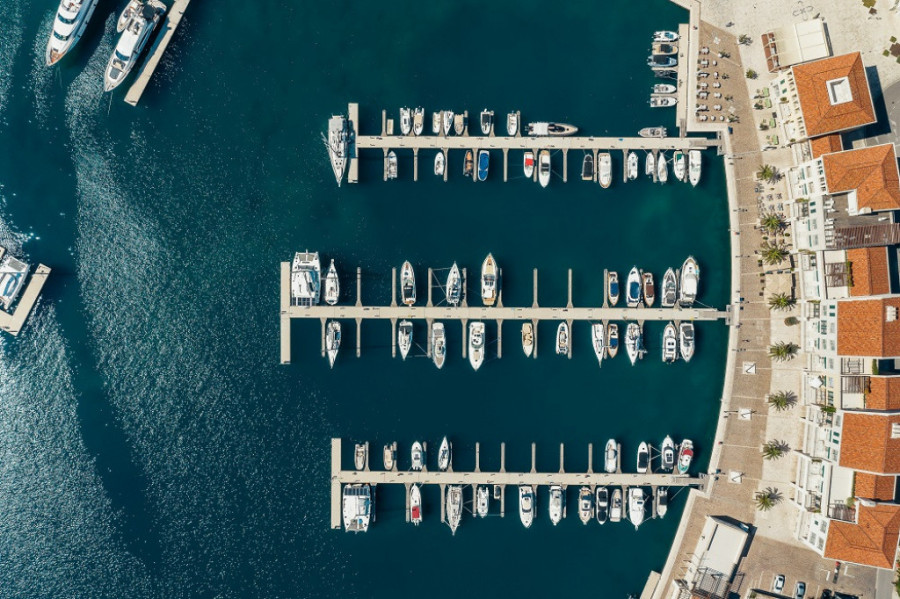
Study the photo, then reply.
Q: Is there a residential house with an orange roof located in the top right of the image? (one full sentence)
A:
Yes, you'll find a residential house with an orange roof in the top right of the image.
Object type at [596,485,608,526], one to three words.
boat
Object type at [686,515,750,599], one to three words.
building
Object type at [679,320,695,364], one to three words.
boat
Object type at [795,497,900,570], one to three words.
house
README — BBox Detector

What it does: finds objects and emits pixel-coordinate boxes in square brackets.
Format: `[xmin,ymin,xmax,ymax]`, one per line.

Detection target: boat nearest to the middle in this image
[431,260,462,307]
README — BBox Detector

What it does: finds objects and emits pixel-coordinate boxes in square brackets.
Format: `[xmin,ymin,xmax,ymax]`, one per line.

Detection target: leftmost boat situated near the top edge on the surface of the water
[46,0,98,85]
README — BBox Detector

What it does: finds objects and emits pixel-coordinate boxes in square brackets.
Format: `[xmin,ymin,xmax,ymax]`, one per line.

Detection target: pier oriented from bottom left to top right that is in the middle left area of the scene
[0,263,53,336]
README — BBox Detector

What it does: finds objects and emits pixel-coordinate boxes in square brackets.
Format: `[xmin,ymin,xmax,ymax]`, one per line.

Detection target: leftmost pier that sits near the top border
[124,0,195,106]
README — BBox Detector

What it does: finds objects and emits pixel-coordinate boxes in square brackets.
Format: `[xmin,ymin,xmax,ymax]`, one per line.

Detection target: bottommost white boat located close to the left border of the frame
[0,255,31,311]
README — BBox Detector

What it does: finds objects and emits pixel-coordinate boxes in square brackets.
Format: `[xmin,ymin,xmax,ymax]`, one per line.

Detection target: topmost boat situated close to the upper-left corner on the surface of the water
[115,0,138,32]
